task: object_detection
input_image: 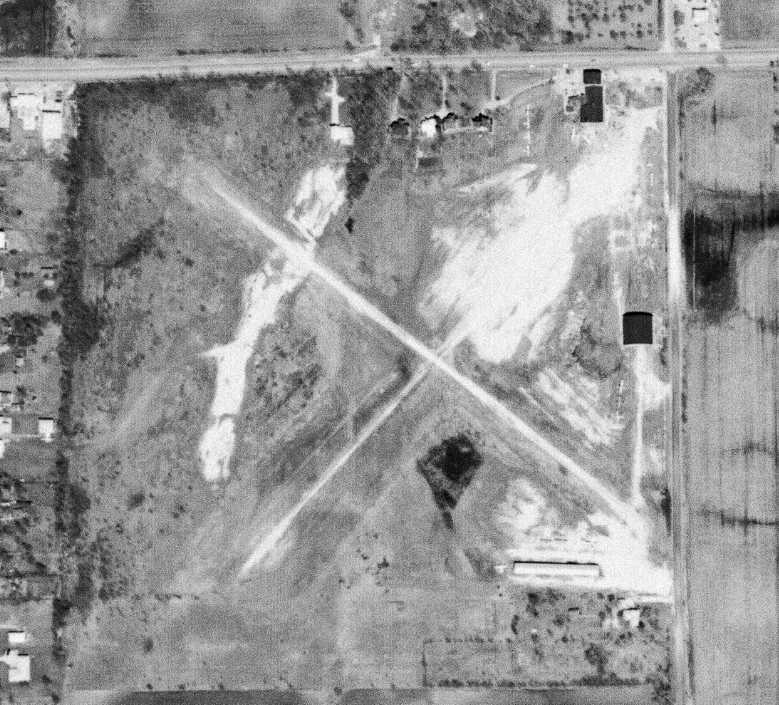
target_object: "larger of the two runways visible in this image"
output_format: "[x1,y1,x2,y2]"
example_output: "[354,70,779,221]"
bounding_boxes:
[215,185,642,513]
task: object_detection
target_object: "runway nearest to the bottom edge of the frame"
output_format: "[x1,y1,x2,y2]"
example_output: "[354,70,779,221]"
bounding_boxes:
[243,354,441,572]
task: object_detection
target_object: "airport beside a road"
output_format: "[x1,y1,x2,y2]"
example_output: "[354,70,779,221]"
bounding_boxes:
[58,69,673,691]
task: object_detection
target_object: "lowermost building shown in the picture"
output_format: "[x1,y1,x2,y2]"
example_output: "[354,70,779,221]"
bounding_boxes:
[8,650,30,683]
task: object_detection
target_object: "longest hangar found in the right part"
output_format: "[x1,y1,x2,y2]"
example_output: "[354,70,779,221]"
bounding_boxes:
[514,563,601,578]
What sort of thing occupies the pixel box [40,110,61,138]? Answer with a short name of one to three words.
building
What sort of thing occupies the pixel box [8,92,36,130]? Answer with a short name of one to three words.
building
